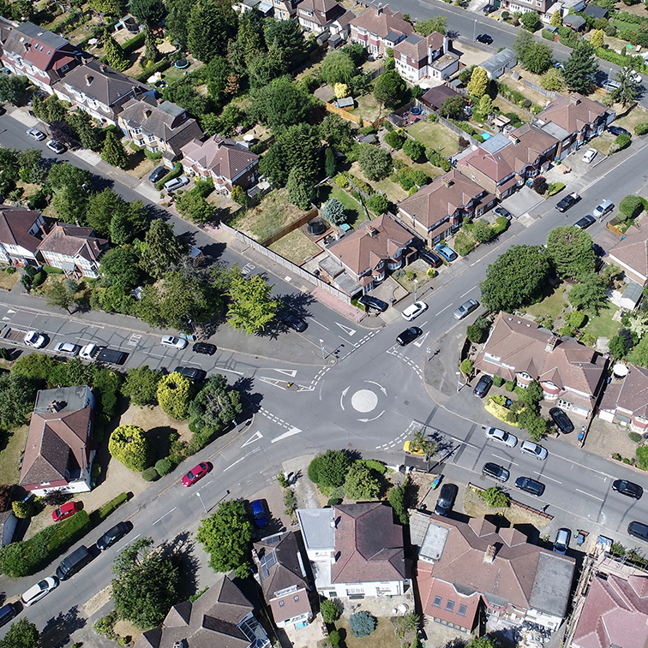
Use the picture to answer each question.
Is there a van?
Yes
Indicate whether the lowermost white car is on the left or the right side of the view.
left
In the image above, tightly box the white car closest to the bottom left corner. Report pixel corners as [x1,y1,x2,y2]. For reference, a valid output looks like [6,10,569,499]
[20,576,59,608]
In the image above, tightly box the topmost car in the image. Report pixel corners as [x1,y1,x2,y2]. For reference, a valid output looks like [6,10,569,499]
[475,34,494,46]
